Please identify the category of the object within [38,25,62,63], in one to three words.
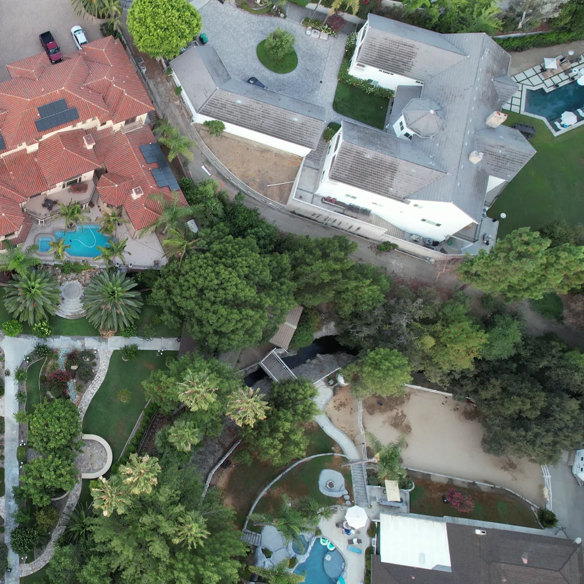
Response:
truck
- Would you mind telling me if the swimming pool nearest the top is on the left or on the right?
right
